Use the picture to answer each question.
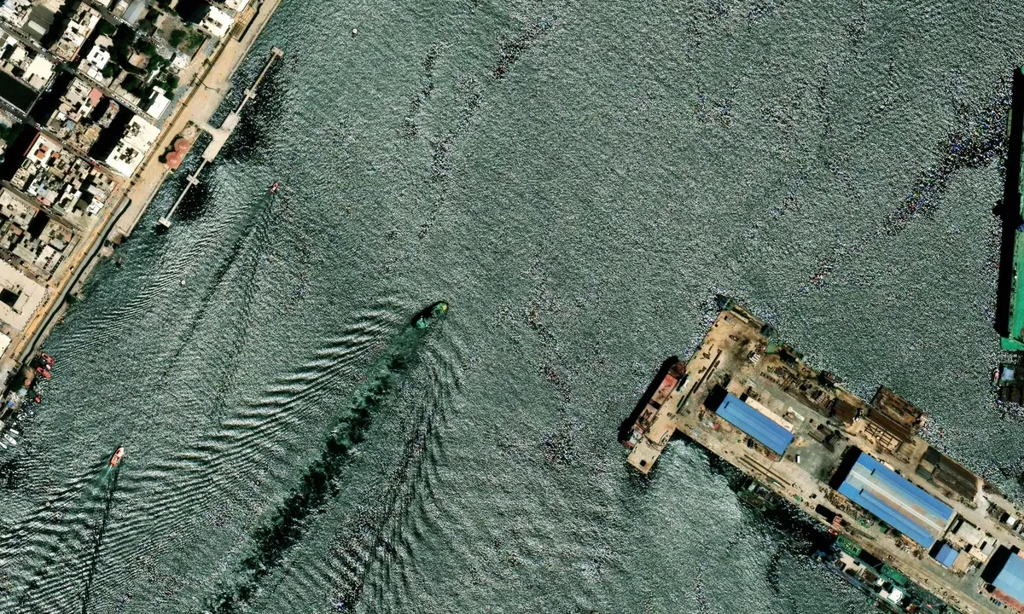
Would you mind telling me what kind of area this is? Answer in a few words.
port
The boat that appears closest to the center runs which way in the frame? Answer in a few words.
on a diagonal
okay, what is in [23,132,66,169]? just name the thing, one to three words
building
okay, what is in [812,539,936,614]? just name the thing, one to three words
ship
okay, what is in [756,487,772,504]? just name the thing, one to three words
boat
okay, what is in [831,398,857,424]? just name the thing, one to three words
shed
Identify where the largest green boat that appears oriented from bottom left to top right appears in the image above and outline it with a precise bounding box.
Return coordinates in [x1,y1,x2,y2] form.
[415,302,448,330]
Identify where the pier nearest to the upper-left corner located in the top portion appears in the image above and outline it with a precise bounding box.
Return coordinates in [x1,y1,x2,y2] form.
[159,47,284,227]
